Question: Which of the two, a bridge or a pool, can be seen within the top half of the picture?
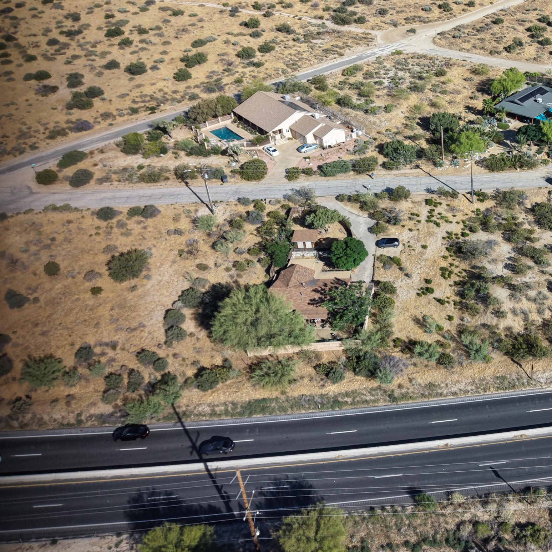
pool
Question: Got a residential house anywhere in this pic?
Yes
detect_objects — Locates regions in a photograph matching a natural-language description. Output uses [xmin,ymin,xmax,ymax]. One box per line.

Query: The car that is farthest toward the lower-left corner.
[109,427,148,443]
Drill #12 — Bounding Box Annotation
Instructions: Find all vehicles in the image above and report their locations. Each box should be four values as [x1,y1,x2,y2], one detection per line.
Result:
[264,145,279,154]
[375,236,399,247]
[298,143,317,152]
[109,427,148,443]
[519,116,534,122]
